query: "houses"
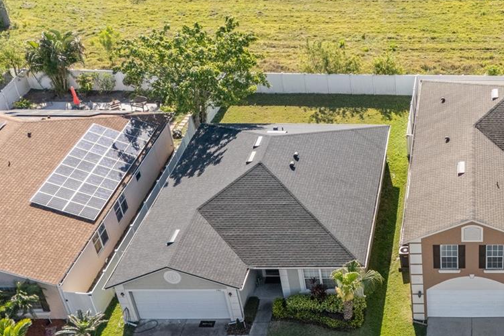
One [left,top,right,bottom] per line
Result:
[399,81,504,320]
[0,110,174,324]
[103,124,392,327]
